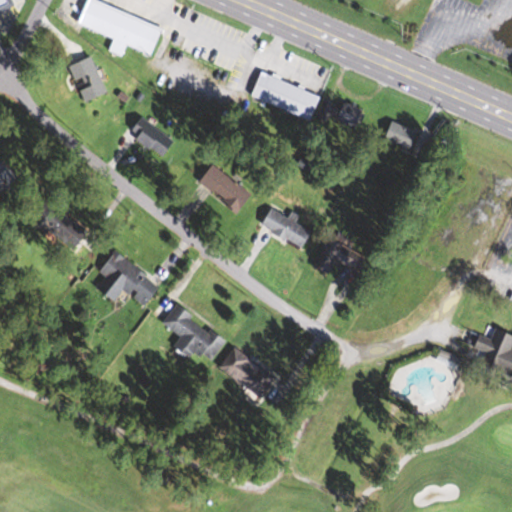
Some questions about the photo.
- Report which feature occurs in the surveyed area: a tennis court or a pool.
pool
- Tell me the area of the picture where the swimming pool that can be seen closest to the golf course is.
bottom right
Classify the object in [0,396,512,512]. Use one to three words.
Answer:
golf course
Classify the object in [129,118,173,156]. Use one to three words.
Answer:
house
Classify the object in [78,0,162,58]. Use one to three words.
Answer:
building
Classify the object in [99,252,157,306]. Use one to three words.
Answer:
house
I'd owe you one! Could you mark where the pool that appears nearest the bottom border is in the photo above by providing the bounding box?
[390,356,456,414]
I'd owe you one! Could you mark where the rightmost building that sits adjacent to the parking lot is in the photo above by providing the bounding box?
[252,70,317,120]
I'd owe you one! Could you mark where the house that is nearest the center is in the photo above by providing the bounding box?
[262,208,310,248]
